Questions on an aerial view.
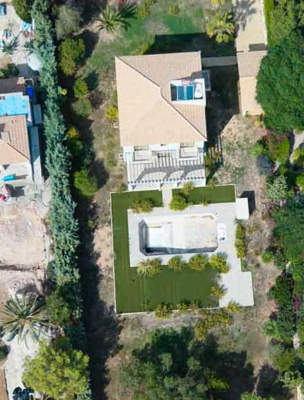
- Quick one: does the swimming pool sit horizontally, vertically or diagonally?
horizontally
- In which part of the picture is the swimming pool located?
center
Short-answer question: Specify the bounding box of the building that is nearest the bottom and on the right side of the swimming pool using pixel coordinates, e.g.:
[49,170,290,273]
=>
[237,197,251,221]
